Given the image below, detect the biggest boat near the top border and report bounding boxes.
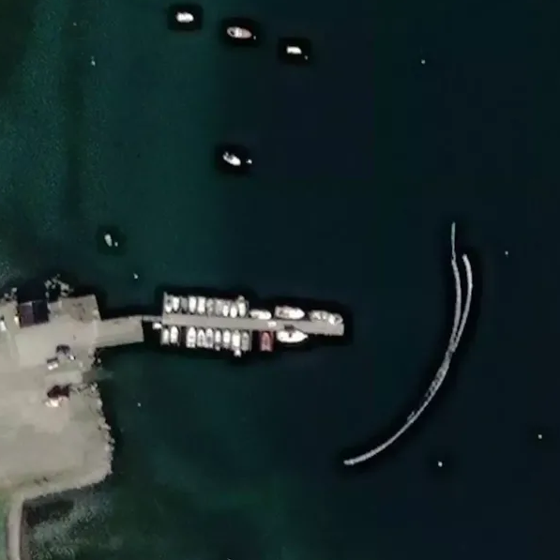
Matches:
[227,25,251,39]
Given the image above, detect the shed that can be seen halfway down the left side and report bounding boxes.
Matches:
[17,298,50,328]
